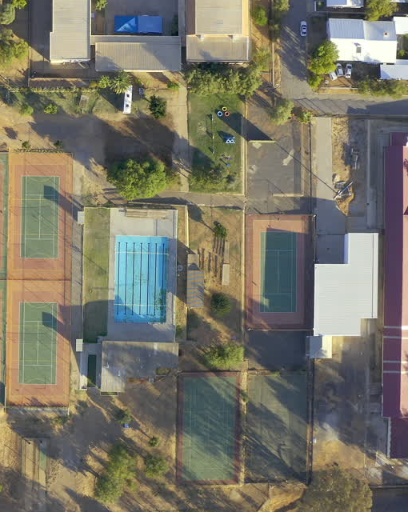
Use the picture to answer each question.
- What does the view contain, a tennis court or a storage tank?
tennis court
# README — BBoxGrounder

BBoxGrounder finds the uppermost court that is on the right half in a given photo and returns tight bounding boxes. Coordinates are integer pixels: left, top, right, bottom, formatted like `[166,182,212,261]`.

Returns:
[247,215,313,329]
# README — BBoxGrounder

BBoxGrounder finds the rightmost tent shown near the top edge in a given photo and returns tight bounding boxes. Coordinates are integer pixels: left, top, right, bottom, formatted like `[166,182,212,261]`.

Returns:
[137,16,163,35]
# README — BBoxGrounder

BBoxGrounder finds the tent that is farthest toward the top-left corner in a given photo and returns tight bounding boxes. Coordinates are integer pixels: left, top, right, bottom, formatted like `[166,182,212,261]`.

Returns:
[114,16,137,34]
